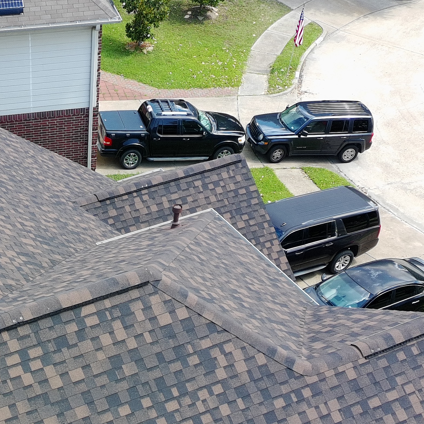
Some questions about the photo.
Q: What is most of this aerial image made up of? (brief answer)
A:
buildings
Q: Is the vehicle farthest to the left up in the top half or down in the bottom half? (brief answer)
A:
top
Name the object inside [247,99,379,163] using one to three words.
car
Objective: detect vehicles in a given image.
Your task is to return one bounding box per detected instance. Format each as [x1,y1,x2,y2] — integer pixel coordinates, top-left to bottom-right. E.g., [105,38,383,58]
[95,93,251,170]
[311,258,424,317]
[266,189,388,279]
[247,99,379,163]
